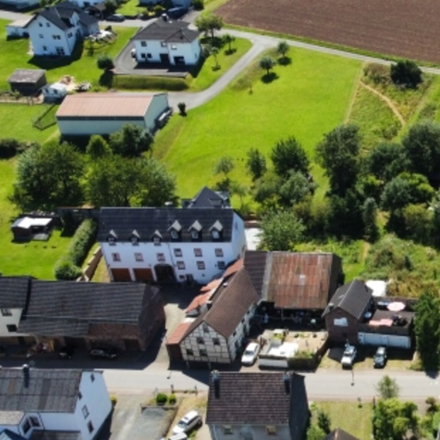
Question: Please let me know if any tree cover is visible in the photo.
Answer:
Yes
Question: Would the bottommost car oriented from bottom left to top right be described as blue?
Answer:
No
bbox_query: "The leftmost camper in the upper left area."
[42,84,78,103]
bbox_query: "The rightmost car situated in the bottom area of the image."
[373,343,387,369]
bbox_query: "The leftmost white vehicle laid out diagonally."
[170,406,204,435]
